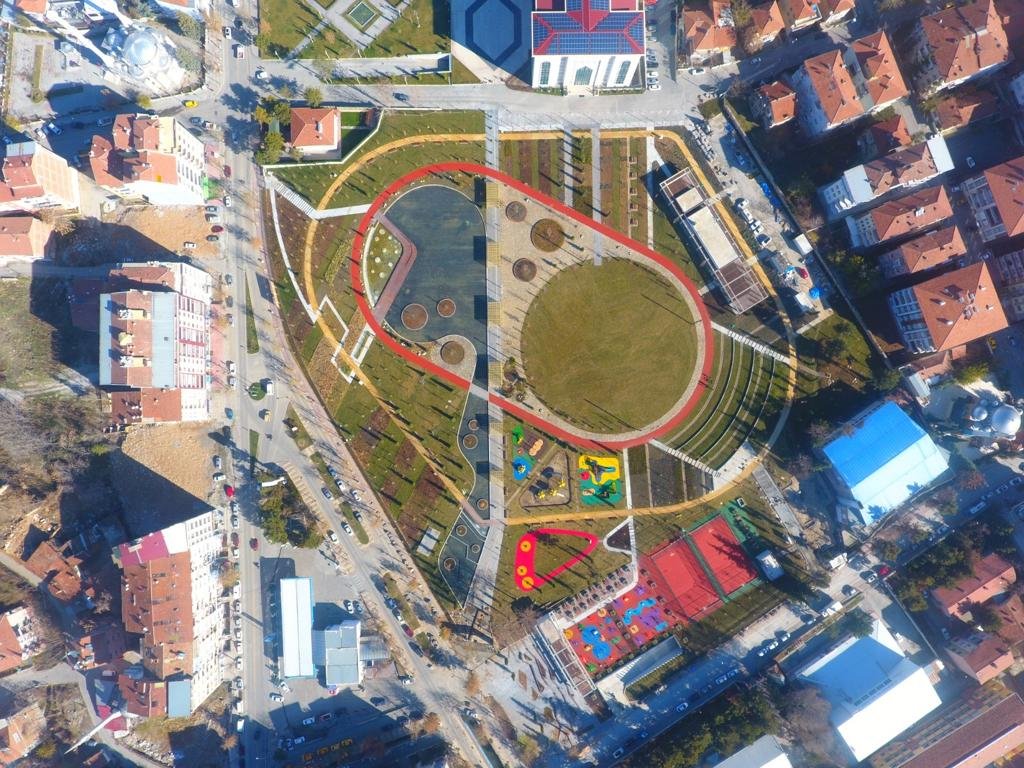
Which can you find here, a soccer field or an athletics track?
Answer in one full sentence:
Of the two, only an athletics track appears.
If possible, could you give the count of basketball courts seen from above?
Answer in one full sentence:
In total, 2 basketball courts can be seen.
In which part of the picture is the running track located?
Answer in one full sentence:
Look in the center portion of the view to spot the running track.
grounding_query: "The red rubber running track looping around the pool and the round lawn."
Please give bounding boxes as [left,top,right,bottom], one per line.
[351,161,714,450]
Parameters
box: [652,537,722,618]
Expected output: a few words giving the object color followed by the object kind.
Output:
red basketball court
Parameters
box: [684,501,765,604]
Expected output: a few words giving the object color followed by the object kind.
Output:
red basketball court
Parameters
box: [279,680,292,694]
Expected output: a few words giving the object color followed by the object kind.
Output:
white vehicle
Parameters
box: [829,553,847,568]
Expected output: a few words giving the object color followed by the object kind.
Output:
white vehicle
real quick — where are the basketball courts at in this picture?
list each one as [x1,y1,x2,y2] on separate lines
[652,537,722,618]
[684,501,765,604]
